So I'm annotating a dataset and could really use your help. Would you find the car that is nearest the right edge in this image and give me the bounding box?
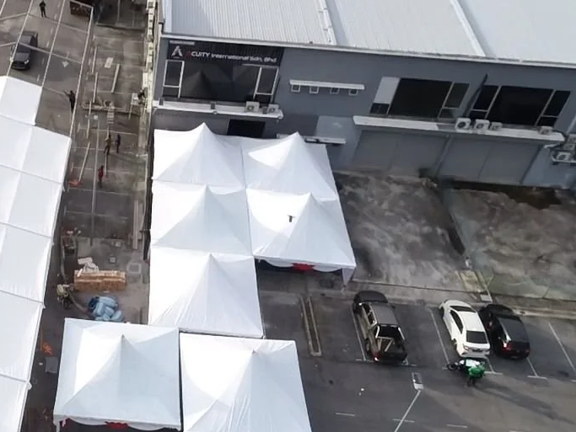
[477,292,539,356]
